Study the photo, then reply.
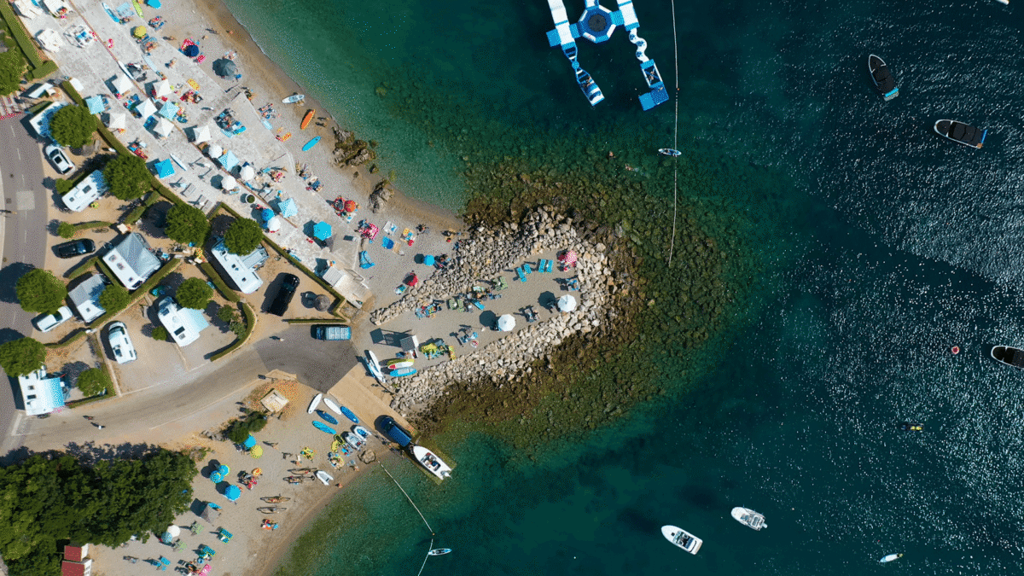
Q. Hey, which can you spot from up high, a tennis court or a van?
van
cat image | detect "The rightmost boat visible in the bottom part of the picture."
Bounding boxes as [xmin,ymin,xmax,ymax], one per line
[988,347,1024,370]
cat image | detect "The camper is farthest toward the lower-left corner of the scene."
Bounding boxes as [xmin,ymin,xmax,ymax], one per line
[22,366,74,419]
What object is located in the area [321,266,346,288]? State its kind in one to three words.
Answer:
shed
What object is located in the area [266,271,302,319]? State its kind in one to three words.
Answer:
van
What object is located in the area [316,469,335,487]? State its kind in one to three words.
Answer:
boat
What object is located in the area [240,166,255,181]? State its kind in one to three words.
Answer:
umbrella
